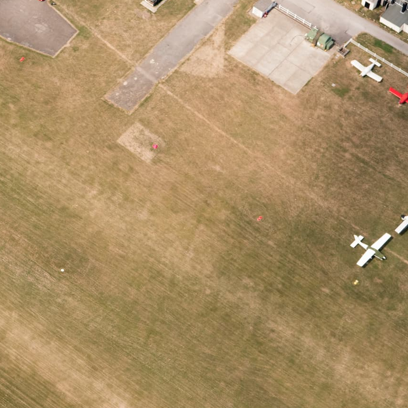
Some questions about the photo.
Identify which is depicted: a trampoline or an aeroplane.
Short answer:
aeroplane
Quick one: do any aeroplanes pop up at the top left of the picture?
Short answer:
No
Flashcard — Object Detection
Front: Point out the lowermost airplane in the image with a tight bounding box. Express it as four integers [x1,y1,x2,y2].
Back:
[351,233,392,268]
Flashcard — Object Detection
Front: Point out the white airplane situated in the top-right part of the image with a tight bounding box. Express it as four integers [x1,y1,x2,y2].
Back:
[350,54,386,82]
